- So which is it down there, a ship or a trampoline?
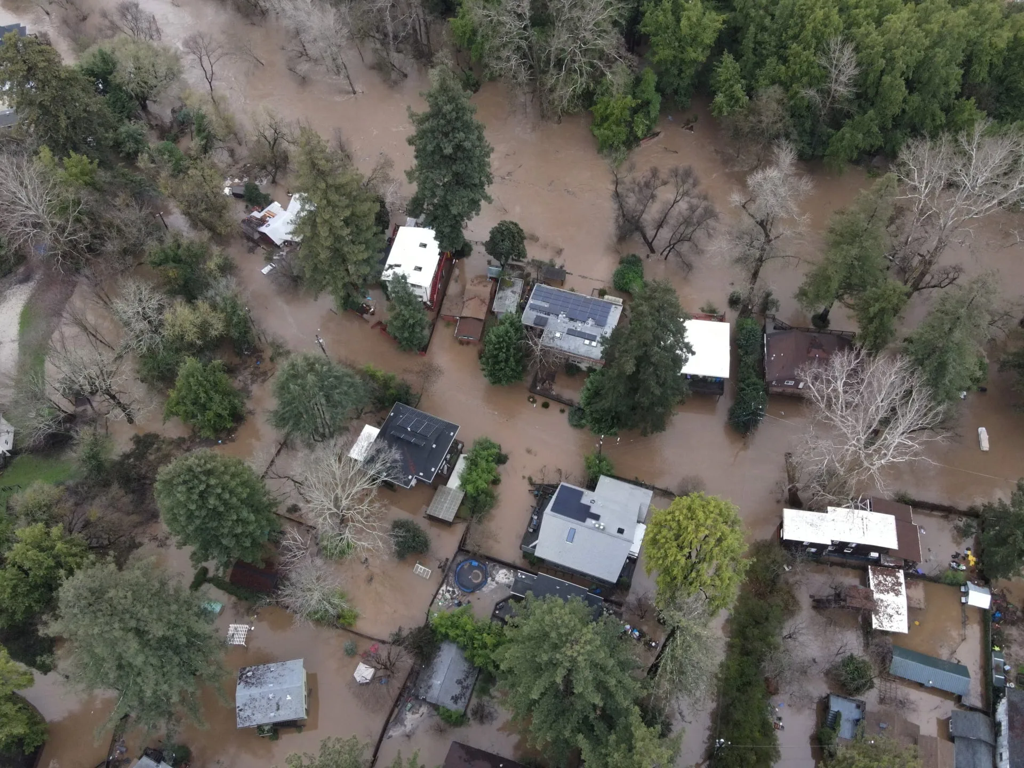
trampoline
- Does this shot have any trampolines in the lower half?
Yes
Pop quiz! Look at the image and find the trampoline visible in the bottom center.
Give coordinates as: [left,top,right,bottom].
[455,560,488,592]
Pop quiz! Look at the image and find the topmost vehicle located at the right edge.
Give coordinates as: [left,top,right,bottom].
[975,427,992,454]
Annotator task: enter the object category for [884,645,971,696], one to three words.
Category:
shed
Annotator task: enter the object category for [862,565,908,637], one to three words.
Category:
house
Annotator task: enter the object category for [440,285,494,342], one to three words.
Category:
building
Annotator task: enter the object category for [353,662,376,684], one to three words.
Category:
tent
